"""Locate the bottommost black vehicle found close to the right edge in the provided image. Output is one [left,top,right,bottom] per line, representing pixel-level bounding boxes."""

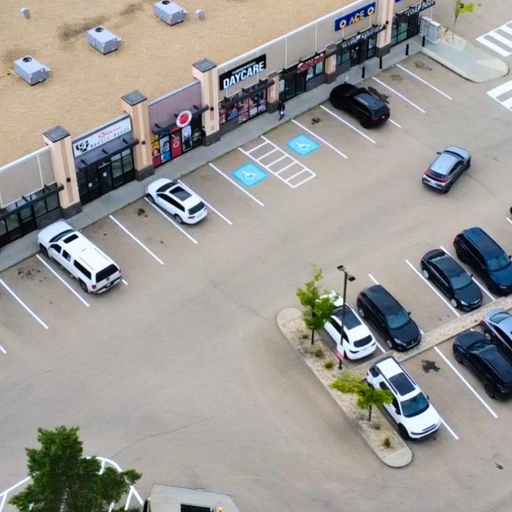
[452,334,512,401]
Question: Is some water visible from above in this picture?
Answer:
No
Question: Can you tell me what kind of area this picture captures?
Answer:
parking lot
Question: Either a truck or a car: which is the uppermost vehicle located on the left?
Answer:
car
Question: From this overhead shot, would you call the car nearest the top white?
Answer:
No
